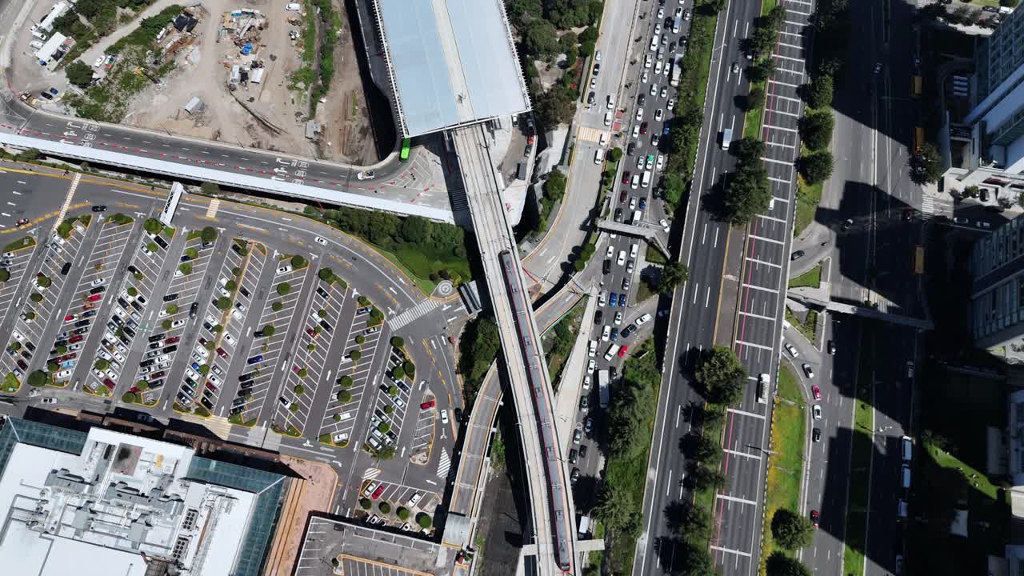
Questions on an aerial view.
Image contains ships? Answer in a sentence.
No, the picture doesn't show any ship.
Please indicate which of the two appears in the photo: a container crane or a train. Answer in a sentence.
The image shows a train.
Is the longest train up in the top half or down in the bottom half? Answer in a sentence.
The bottom half of the photo is where the longest train is.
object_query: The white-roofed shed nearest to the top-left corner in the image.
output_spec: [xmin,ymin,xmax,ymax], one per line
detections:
[35,32,70,66]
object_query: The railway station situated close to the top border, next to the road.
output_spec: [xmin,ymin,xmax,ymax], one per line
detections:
[369,0,535,167]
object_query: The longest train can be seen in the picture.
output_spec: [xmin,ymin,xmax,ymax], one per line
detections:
[502,254,569,563]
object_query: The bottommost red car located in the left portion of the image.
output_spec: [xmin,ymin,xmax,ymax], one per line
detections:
[371,485,384,500]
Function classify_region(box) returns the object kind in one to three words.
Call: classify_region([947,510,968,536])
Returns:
building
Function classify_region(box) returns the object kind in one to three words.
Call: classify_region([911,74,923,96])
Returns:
vehicle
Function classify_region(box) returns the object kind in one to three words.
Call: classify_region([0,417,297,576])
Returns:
building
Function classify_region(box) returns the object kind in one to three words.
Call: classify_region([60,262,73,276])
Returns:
vehicle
